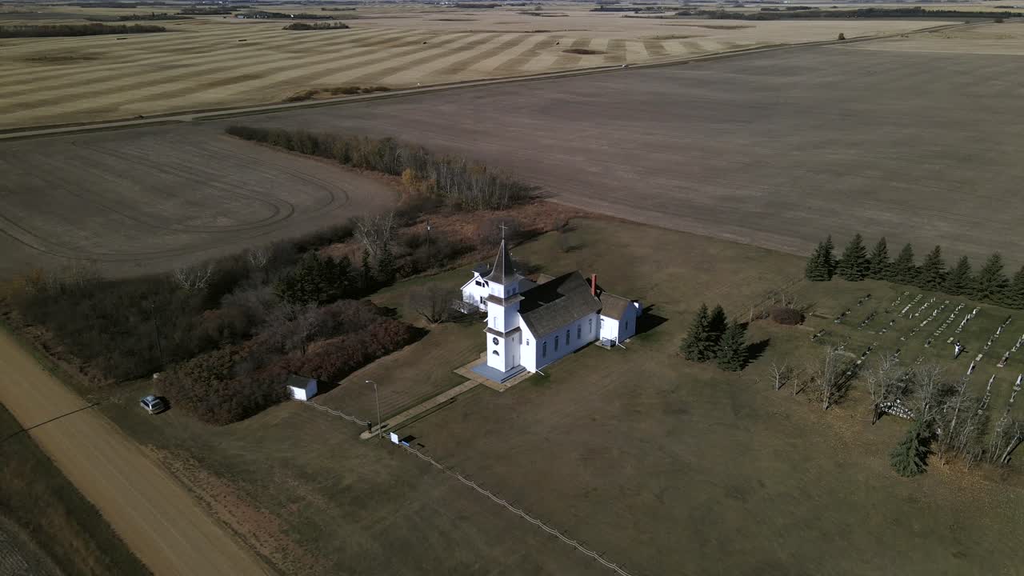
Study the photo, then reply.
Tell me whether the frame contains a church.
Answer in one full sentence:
Yes, I can see a church in this picture.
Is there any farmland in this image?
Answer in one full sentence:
Yes, farmland can be seen from above here.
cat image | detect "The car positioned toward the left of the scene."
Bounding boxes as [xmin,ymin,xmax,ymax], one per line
[141,394,166,412]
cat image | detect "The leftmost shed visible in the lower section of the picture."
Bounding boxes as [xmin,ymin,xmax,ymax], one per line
[289,375,320,402]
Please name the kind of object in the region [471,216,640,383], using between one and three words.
church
